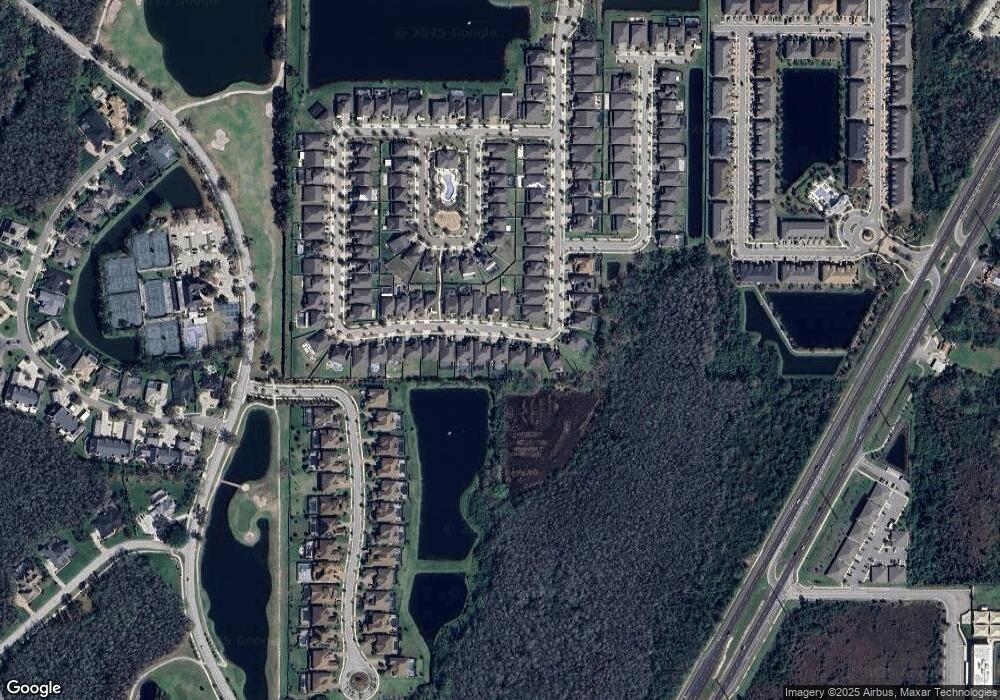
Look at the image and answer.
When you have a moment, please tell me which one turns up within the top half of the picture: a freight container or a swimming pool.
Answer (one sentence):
There is a swimming pool within the top half of the picture.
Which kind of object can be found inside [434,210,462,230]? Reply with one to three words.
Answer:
playground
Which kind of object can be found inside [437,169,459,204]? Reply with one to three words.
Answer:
swimming pool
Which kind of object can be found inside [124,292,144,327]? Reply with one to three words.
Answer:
sports court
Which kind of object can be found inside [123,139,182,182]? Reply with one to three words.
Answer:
house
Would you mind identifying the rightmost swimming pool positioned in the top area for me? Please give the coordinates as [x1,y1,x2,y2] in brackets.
[809,177,841,211]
